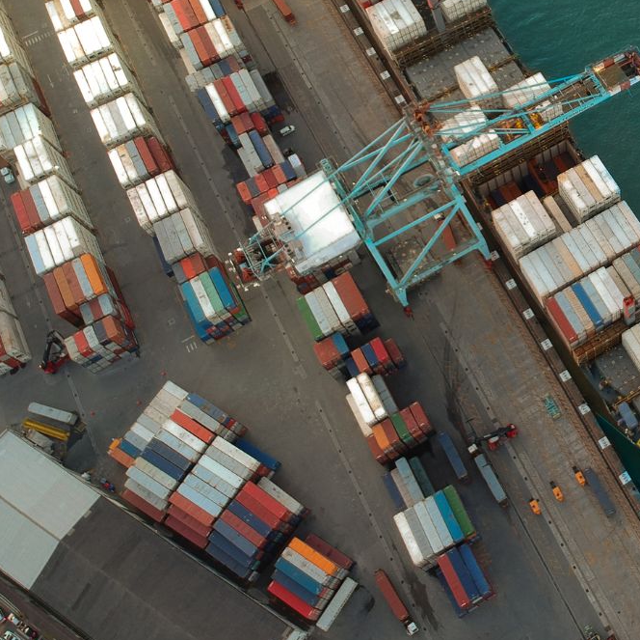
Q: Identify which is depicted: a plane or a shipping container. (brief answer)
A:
shipping container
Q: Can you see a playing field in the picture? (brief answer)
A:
No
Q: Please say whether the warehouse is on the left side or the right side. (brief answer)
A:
left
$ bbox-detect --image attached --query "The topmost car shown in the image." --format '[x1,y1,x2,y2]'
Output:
[280,126,294,139]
